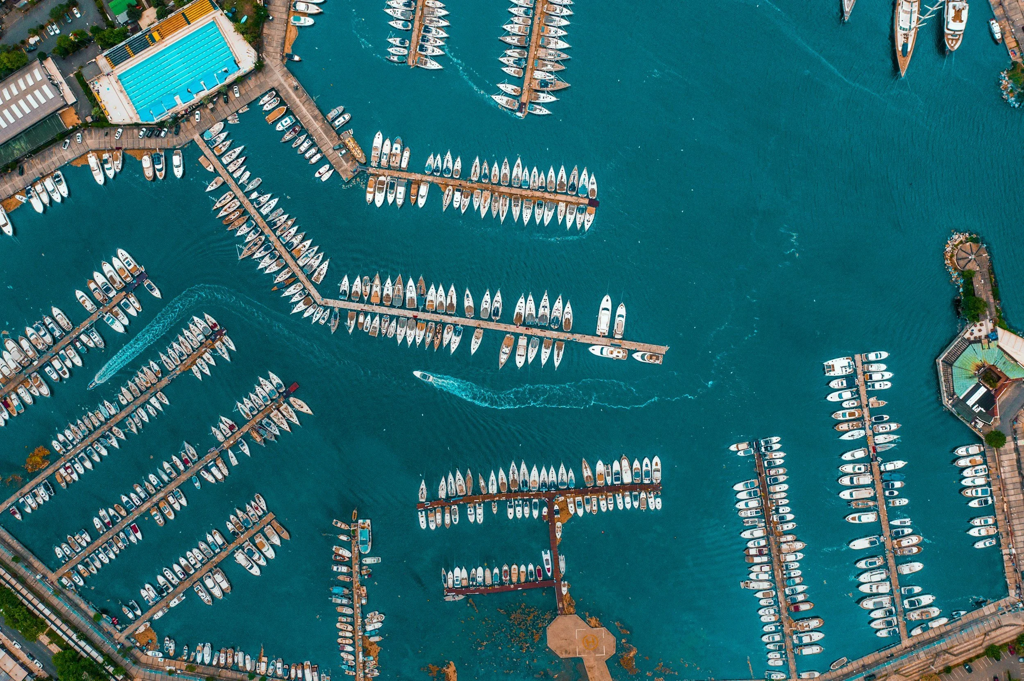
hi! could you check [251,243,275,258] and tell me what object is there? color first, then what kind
white boat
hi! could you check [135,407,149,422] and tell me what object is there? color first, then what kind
white boat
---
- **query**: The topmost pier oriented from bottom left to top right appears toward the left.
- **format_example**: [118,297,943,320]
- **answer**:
[0,271,149,397]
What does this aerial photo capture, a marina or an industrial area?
marina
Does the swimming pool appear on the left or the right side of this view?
left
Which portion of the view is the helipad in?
bottom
